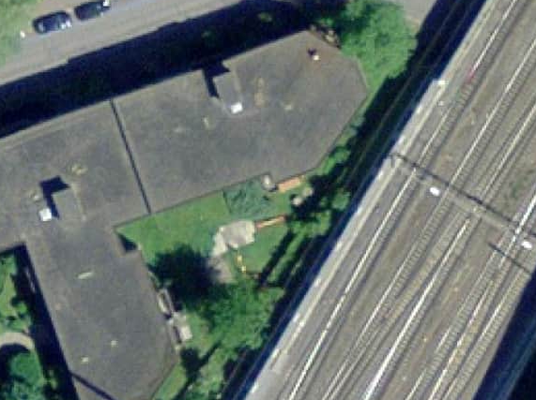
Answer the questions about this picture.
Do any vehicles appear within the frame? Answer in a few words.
Yes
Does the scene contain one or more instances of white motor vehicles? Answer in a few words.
No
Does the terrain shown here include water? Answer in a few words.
No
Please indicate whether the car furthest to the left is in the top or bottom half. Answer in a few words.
top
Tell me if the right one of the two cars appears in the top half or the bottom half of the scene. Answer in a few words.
top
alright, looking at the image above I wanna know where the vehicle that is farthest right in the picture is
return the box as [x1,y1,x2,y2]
[75,0,112,21]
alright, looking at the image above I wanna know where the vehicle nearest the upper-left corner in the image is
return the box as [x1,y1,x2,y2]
[33,9,73,35]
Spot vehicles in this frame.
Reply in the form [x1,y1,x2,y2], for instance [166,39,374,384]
[75,0,112,21]
[33,9,73,35]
